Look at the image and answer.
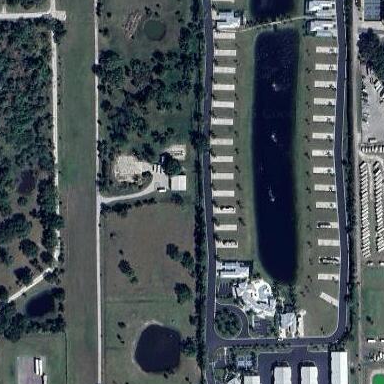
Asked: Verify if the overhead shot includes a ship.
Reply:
No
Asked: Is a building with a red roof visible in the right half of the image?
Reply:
No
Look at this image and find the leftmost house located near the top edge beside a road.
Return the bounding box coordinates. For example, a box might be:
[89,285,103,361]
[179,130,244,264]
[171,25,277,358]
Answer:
[216,11,244,28]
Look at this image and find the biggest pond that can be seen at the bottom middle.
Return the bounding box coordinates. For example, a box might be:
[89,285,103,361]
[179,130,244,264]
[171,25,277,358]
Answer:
[135,323,181,372]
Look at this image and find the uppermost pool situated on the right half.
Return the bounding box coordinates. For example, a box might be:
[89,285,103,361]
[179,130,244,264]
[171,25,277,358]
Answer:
[258,283,272,301]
